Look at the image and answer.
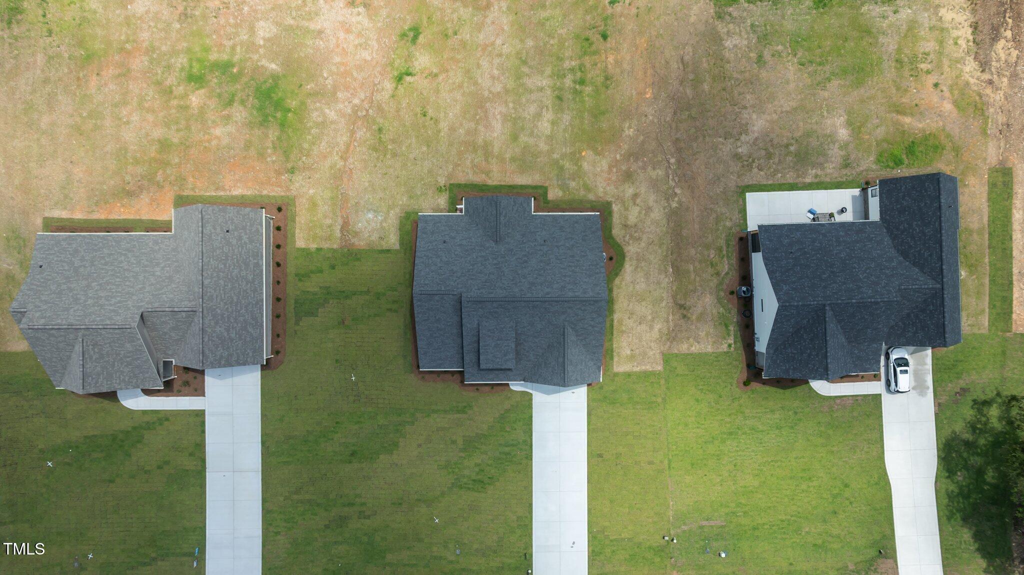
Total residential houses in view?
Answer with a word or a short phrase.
3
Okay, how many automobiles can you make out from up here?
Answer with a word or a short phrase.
1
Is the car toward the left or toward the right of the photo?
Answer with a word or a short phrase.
right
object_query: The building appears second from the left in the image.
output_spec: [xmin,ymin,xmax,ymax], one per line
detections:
[413,195,607,388]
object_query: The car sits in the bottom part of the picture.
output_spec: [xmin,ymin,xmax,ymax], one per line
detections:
[886,347,913,394]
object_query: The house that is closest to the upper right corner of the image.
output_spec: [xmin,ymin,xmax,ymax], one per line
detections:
[742,172,964,382]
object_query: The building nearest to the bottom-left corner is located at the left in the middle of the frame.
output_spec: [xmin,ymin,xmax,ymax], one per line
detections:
[12,204,274,396]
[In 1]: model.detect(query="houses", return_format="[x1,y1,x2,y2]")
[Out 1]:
[413,195,607,388]
[742,172,964,382]
[12,204,274,396]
